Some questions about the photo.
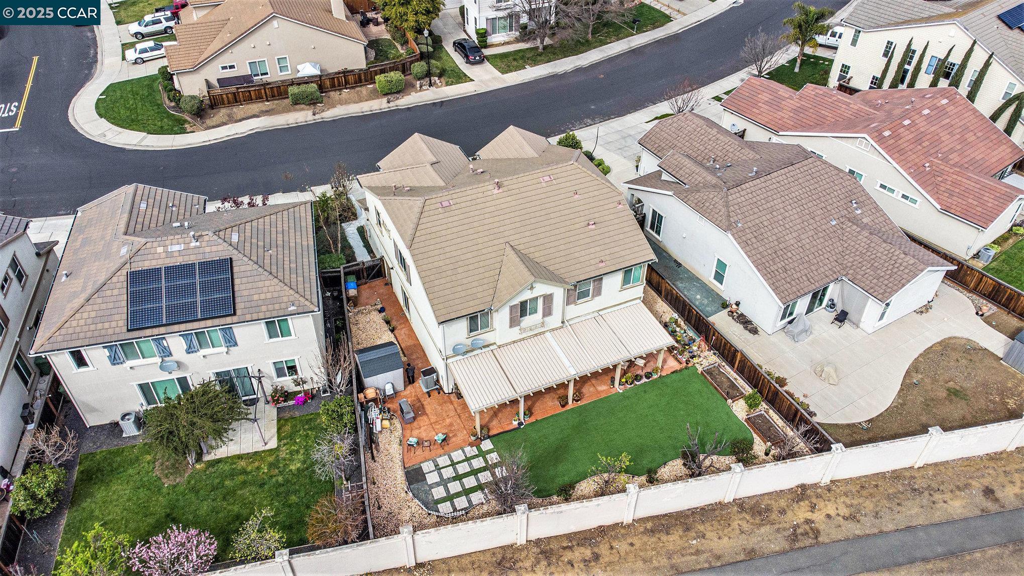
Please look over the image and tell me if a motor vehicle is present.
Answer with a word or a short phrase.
Yes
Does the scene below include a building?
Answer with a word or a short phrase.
Yes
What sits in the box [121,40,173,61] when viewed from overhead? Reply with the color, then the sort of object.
white car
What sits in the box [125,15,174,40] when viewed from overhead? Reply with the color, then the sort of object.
white car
